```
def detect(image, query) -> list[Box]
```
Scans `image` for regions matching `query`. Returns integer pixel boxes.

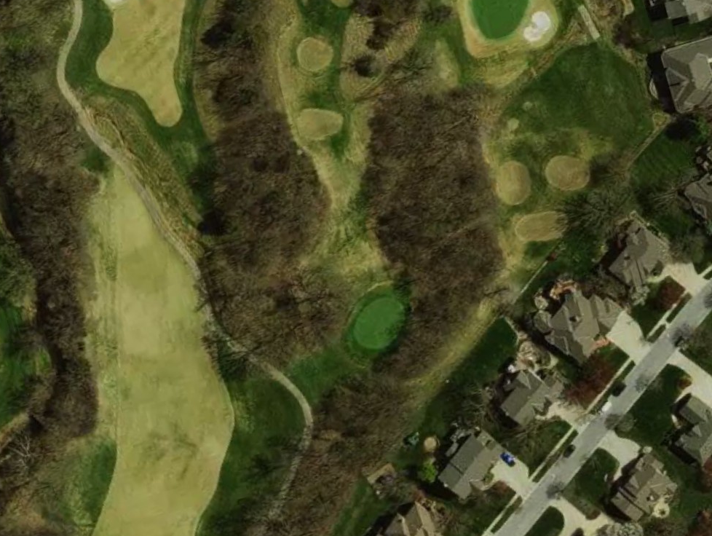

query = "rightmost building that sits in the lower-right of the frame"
[677,391,712,469]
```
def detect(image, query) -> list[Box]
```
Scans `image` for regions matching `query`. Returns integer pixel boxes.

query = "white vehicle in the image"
[601,401,614,415]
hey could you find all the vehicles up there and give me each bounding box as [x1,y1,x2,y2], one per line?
[601,401,614,415]
[613,381,626,395]
[563,444,576,457]
[502,453,514,464]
